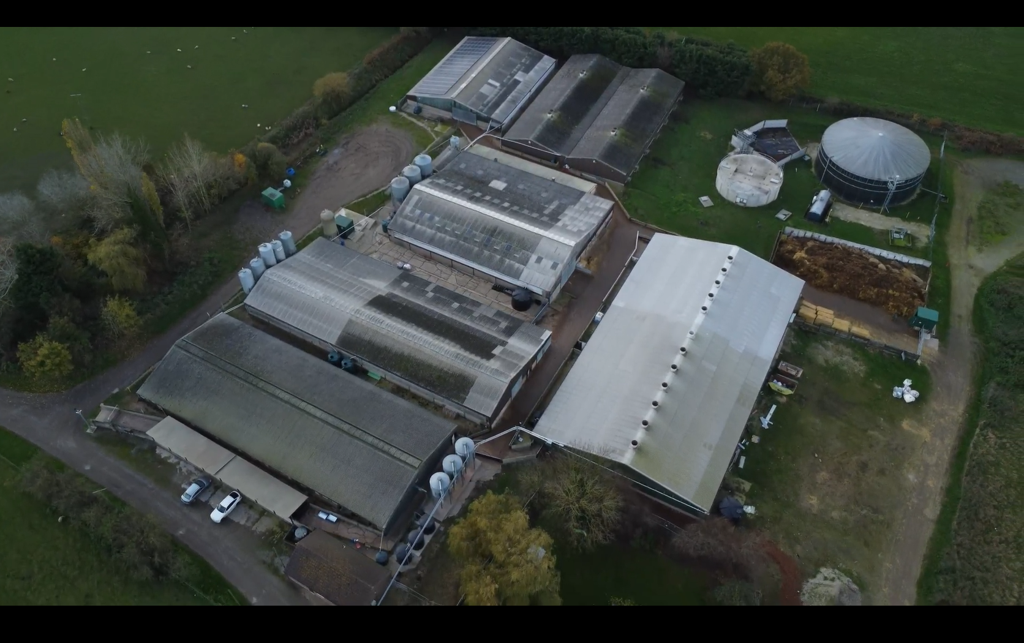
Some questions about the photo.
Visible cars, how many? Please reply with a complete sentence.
In total, 2 cars can be seen.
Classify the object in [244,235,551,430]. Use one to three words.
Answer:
barn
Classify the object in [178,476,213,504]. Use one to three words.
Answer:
car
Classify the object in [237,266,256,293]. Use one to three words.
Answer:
silo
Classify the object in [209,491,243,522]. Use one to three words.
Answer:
car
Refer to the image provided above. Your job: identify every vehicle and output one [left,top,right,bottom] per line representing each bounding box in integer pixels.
[178,476,213,504]
[209,491,243,522]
